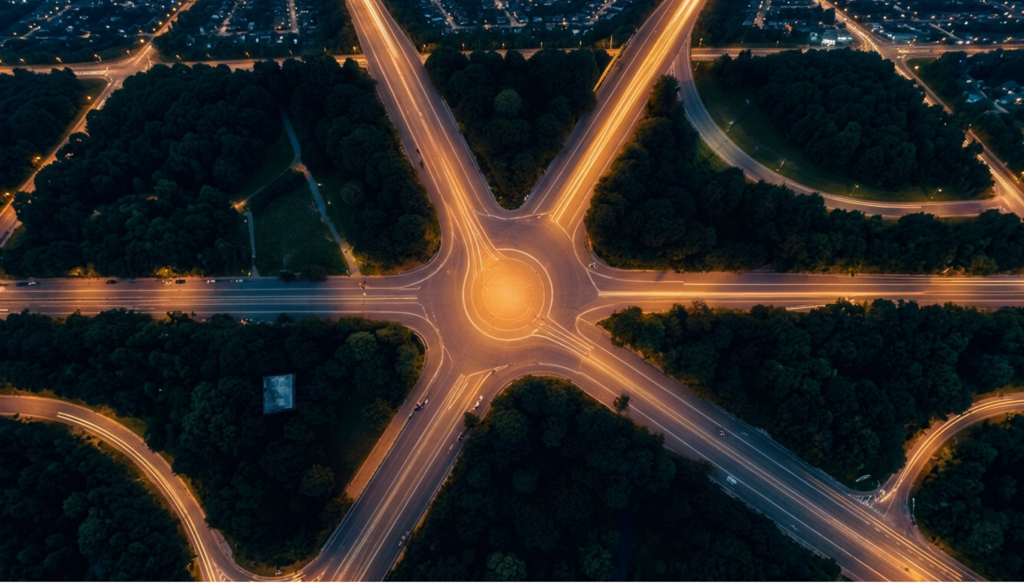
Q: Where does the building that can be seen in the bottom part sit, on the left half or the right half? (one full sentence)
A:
The building that can be seen in the bottom part appears in the left half of the scene.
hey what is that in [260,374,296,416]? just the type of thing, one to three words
building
